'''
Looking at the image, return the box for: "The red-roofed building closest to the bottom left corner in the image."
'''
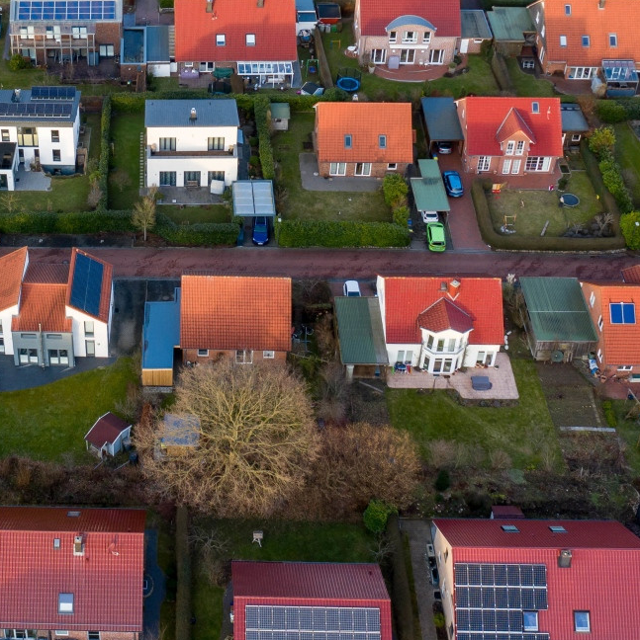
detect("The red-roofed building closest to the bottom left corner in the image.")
[0,505,147,640]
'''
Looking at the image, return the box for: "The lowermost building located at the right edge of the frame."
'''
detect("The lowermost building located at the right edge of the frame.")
[416,517,640,640]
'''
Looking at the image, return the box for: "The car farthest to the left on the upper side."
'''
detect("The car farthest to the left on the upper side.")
[251,219,270,249]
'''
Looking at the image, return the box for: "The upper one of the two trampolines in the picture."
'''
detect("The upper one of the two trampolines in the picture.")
[337,67,361,93]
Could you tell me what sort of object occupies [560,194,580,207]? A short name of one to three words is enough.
trampoline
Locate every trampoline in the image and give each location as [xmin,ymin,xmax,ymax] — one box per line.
[337,67,361,93]
[560,194,580,207]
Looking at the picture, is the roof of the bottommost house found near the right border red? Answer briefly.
Yes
